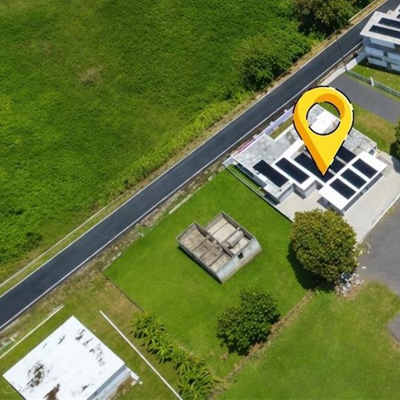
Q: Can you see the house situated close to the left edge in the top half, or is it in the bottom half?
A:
bottom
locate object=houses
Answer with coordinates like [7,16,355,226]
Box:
[359,5,400,76]
[2,316,140,400]
[231,103,388,219]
